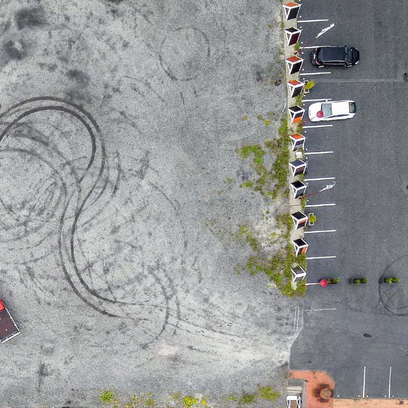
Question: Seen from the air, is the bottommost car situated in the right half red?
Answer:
No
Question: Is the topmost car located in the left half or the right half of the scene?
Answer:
right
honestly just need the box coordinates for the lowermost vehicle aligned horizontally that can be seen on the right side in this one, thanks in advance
[309,98,360,123]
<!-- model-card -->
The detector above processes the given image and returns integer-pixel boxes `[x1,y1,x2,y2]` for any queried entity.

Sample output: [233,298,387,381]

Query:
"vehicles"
[313,42,362,67]
[309,98,360,123]
[0,301,22,346]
